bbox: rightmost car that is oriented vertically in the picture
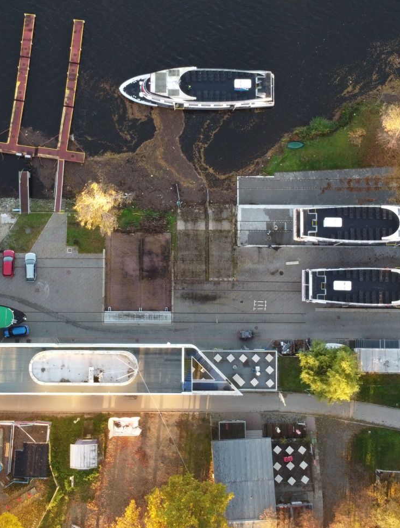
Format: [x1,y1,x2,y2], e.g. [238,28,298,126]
[22,251,37,283]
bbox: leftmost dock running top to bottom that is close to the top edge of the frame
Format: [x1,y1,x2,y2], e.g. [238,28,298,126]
[0,13,36,161]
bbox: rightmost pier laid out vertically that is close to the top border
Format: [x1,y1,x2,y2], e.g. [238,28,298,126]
[36,19,85,167]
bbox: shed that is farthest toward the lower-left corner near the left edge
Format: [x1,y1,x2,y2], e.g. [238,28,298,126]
[6,440,50,487]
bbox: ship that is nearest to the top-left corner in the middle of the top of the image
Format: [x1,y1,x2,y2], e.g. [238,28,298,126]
[120,64,273,105]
